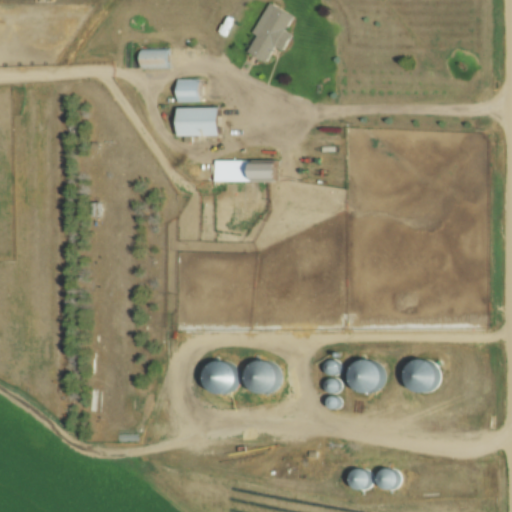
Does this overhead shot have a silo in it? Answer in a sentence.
Yes, a silo is visible in the scene.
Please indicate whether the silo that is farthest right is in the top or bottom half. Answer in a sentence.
You can find the silo that is farthest right in the bottom half.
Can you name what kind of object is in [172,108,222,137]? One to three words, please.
shed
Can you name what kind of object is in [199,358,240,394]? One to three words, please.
silo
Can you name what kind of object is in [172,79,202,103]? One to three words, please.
shed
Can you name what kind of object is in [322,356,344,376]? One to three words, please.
silo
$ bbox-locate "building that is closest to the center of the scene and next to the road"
[212,160,276,182]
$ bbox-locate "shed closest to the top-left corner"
[135,50,170,69]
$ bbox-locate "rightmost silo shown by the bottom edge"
[376,466,404,490]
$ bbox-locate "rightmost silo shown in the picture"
[402,358,443,394]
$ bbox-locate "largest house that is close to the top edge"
[248,3,296,64]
